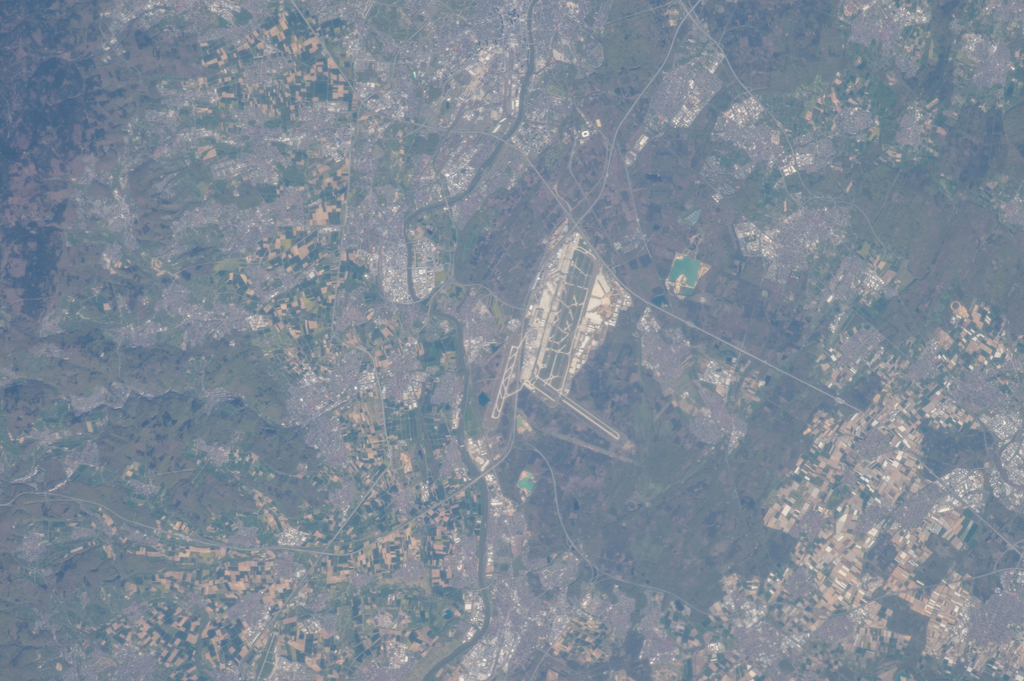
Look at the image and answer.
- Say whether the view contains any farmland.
Yes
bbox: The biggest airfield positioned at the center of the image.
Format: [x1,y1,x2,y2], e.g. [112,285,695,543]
[484,225,633,442]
